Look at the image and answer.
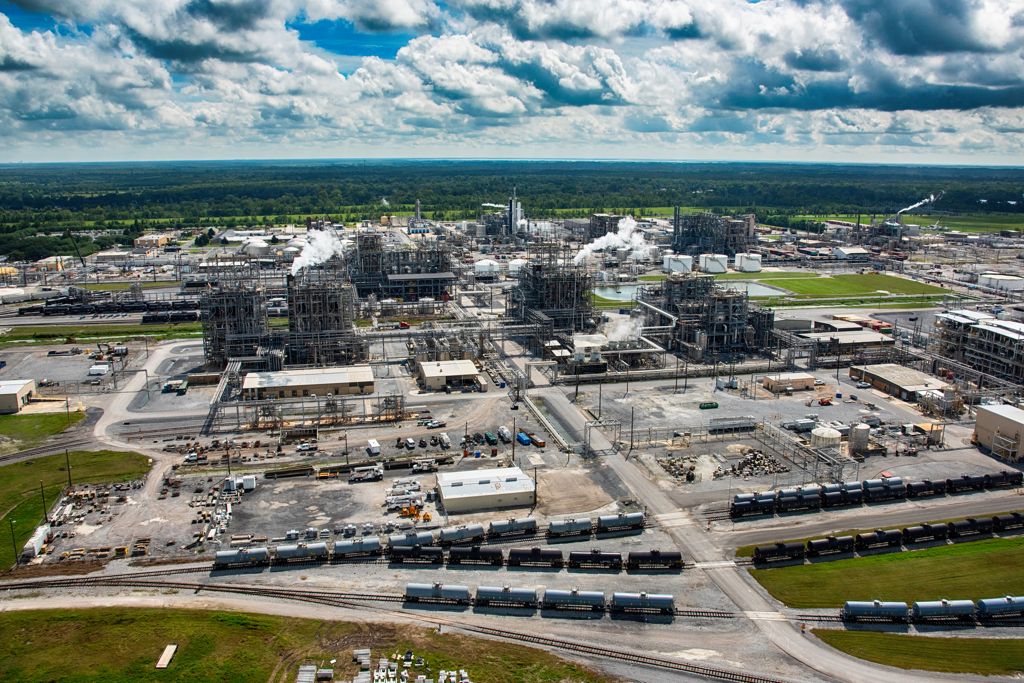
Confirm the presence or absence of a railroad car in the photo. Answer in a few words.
Yes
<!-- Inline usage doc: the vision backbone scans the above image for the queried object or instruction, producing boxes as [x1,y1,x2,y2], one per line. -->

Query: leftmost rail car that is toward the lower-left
[207,540,271,568]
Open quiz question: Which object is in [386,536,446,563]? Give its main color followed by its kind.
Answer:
black rail car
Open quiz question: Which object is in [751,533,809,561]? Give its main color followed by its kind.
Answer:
black rail car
